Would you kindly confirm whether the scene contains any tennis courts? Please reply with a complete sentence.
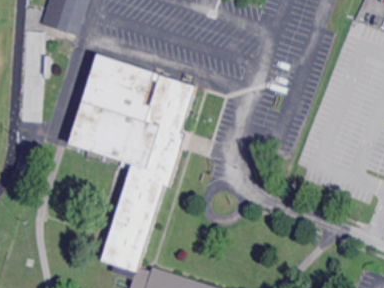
No, there appears to be no tennis court in this shot.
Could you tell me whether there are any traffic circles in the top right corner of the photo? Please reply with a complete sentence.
No, in the top right corner of the photo there is no traffic circle.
